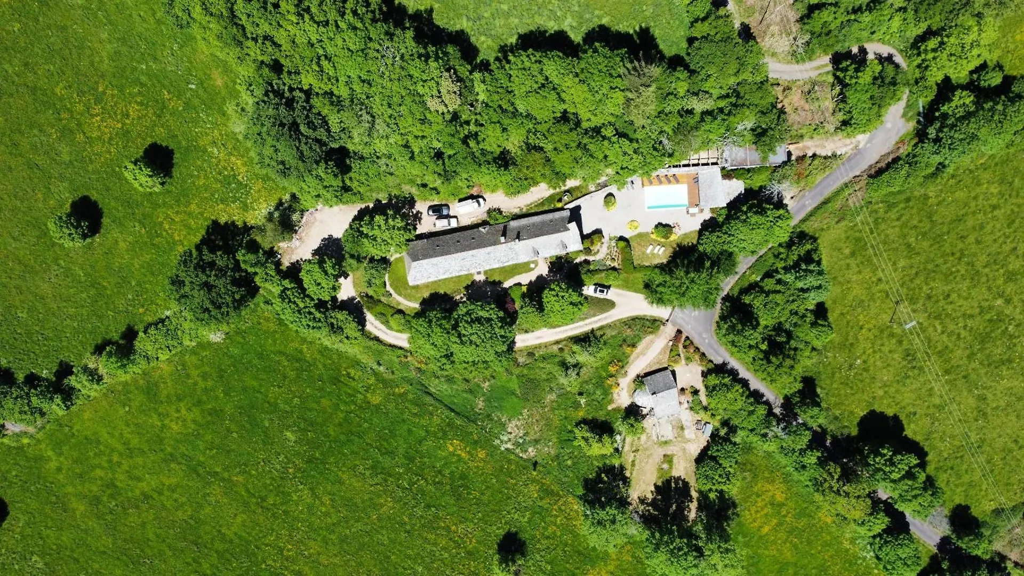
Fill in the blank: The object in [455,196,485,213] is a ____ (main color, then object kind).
white vehicle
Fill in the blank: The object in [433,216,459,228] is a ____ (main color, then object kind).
white vehicle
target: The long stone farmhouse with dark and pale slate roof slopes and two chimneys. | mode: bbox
[402,208,583,286]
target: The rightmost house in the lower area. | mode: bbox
[639,370,680,418]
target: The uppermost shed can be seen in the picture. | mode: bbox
[715,144,787,168]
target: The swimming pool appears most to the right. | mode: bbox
[643,182,690,212]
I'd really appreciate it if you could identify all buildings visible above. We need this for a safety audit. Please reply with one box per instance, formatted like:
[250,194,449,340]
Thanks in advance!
[715,144,787,168]
[695,166,726,209]
[402,208,583,286]
[639,370,680,418]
